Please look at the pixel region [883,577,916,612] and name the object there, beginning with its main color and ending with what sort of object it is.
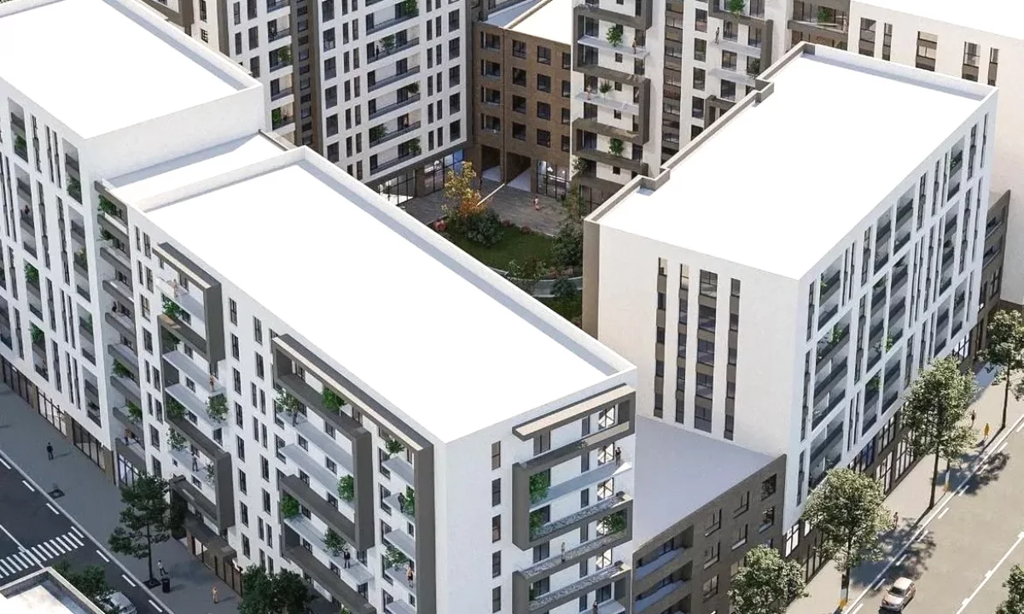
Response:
white car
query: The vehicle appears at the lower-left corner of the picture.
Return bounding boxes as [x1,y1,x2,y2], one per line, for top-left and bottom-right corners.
[105,589,145,614]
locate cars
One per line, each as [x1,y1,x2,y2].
[883,577,916,612]
[105,589,145,614]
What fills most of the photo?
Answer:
buildings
